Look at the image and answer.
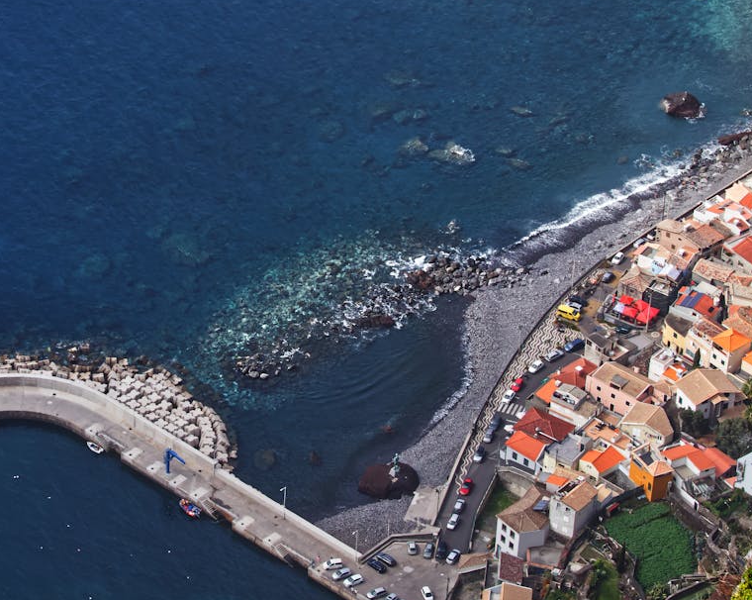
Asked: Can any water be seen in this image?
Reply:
Yes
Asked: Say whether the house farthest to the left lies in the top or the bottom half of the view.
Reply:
bottom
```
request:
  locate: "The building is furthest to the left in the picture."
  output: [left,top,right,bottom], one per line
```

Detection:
[457,550,496,578]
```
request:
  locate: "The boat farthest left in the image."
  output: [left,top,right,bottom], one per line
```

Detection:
[85,444,103,457]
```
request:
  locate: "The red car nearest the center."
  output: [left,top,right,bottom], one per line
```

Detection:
[511,376,523,391]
